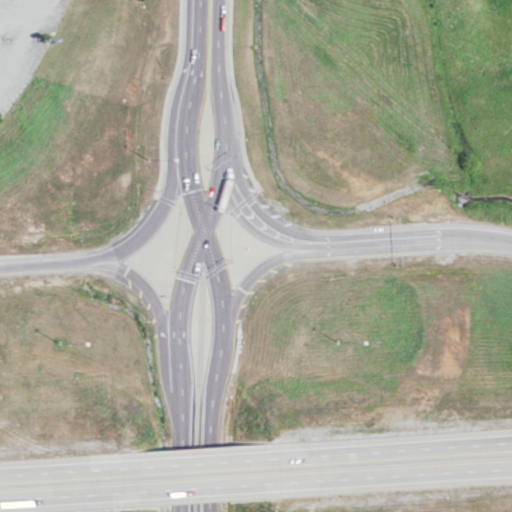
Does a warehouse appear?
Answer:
No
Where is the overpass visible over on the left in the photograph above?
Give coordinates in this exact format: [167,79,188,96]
[146,444,256,508]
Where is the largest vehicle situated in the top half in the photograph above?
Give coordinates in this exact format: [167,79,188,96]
[217,168,232,213]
